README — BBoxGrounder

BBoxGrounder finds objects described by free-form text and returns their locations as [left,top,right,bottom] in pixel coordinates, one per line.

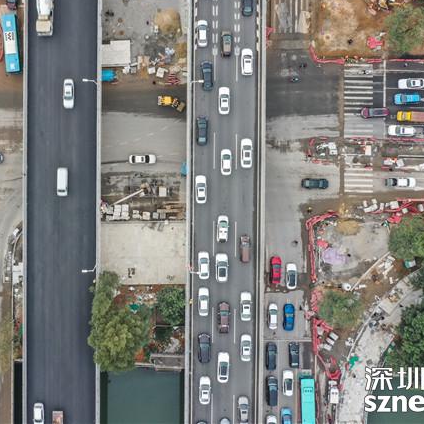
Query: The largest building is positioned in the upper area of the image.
[102,45,131,69]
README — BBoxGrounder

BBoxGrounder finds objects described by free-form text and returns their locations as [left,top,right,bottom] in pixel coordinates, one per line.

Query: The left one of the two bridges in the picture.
[23,0,102,424]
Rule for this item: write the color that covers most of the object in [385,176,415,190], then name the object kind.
white vehicle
